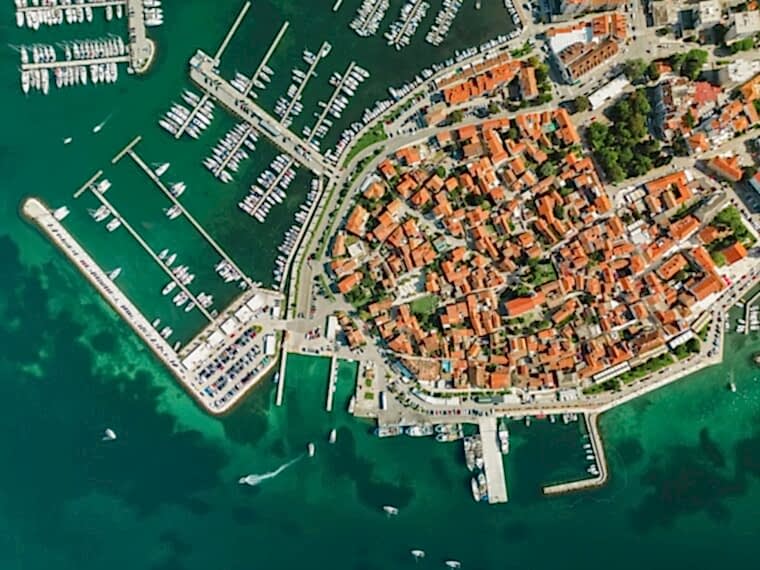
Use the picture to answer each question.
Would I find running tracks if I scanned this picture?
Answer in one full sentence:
No, this view has no running track in it.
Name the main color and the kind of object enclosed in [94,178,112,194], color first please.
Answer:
white boat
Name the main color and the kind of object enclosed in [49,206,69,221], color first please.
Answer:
white boat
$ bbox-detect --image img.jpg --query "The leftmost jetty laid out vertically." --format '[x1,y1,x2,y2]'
[128,0,157,74]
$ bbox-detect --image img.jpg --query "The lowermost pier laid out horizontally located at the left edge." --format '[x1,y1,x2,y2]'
[23,56,128,71]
